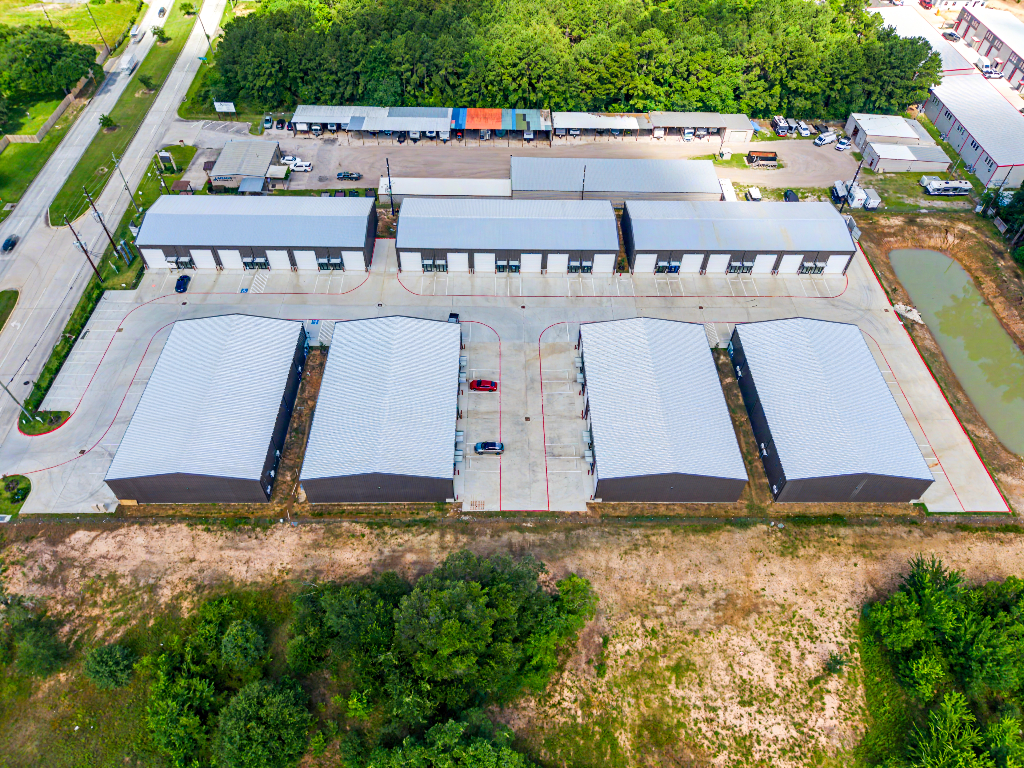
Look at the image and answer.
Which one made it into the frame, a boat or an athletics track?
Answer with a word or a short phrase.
boat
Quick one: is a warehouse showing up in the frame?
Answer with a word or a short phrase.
Yes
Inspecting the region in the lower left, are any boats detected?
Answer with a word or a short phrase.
No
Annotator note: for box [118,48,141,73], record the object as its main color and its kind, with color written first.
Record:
white truck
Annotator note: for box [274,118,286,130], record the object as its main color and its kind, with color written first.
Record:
black vehicle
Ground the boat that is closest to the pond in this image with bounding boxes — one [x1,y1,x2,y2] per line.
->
[778,181,799,201]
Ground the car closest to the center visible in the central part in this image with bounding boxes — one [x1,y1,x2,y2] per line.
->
[470,381,498,393]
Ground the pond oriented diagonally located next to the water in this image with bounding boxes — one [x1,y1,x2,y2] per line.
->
[888,248,1024,455]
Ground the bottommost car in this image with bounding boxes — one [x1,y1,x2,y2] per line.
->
[474,443,504,458]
